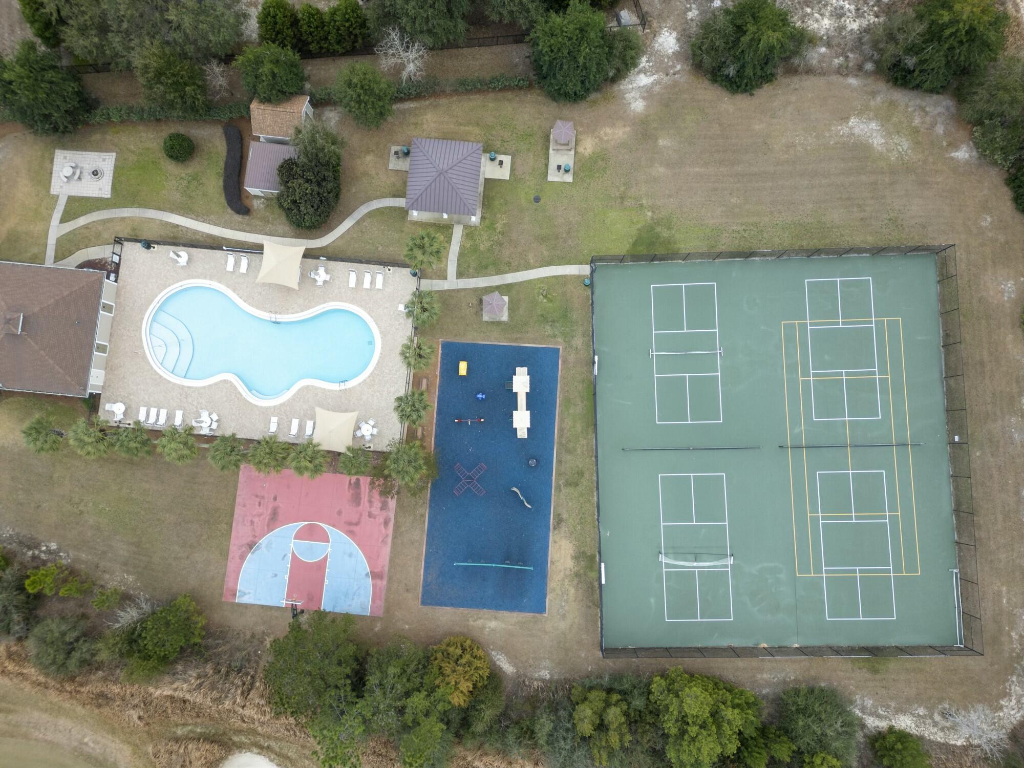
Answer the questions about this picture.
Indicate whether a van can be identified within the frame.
No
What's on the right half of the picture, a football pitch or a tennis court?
tennis court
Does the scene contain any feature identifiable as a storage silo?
No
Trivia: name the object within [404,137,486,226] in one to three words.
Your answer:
building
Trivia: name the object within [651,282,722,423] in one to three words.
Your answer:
sports court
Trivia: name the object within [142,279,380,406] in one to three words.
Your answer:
swimming pool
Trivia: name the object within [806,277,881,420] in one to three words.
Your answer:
sports court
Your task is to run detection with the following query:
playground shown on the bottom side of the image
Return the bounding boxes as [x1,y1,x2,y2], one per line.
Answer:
[419,339,562,616]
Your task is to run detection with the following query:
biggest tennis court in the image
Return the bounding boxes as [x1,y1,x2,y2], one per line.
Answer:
[594,254,963,649]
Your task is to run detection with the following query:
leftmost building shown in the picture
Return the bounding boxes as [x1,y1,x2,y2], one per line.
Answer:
[0,263,117,398]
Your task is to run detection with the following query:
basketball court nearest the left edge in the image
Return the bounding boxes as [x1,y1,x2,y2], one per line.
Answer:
[223,465,397,616]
